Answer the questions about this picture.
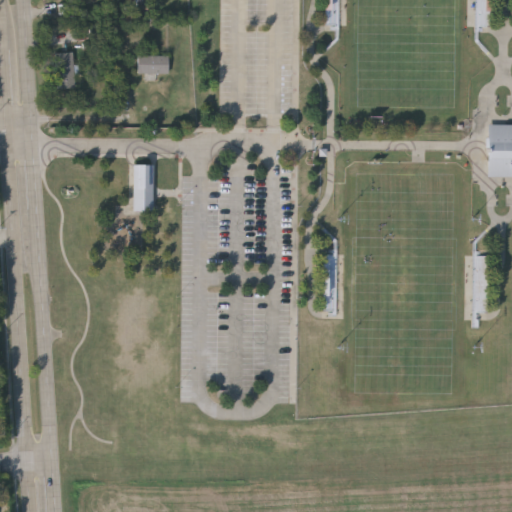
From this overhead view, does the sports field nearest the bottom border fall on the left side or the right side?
right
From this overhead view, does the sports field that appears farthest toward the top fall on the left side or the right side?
right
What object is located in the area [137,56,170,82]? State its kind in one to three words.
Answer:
house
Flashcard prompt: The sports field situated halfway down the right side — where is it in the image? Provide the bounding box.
[348,164,469,400]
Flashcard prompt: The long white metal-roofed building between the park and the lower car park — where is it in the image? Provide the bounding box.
[133,164,154,212]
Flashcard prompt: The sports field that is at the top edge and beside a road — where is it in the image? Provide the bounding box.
[344,0,468,110]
